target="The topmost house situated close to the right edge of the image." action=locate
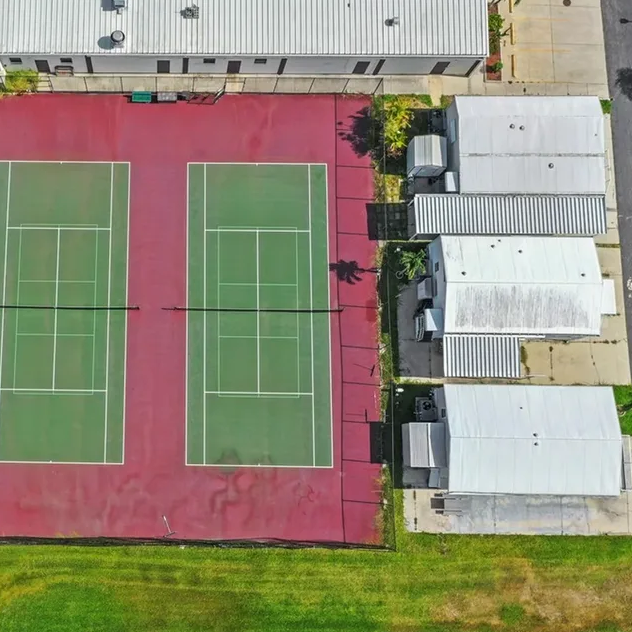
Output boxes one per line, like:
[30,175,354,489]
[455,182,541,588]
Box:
[445,95,605,196]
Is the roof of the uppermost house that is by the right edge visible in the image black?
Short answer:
No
